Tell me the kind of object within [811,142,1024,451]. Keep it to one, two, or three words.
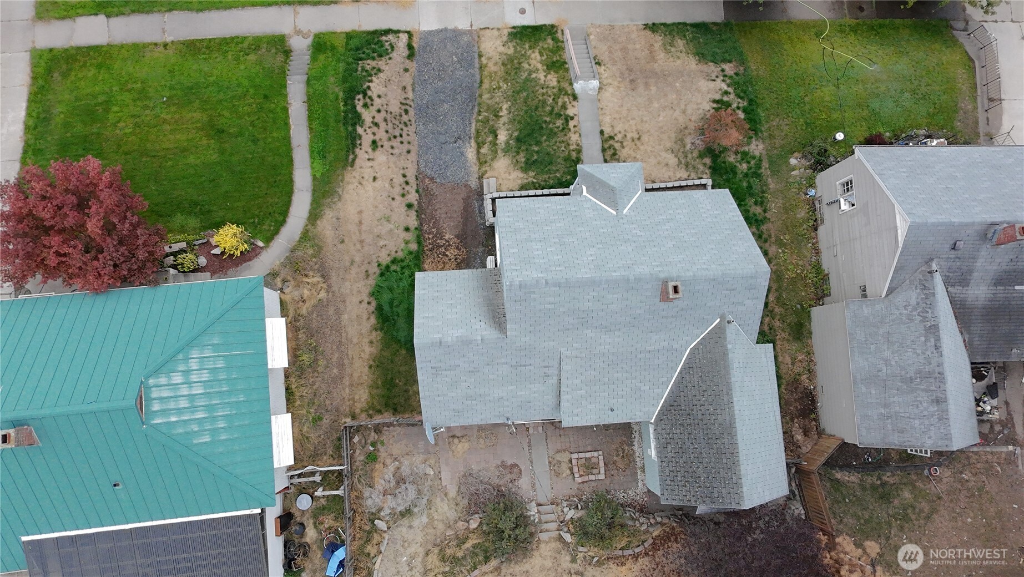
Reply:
house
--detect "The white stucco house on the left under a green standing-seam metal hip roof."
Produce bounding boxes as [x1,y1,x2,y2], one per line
[0,274,297,577]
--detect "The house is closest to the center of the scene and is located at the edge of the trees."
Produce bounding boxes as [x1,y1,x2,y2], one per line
[413,162,789,514]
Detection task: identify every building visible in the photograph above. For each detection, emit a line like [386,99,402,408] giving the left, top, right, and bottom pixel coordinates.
[0,274,297,577]
[811,142,1024,451]
[413,162,789,514]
